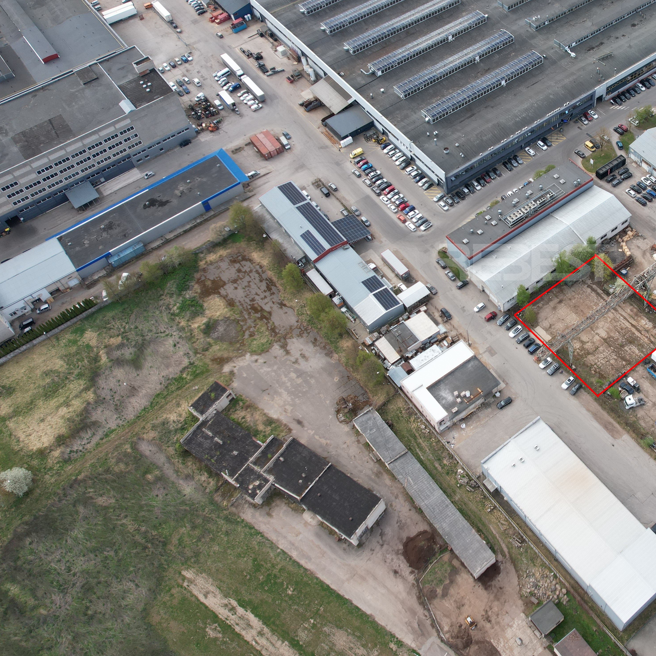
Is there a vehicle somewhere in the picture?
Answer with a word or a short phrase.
Yes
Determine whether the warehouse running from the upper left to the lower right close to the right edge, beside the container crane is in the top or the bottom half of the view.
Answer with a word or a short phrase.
bottom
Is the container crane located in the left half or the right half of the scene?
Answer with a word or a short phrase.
right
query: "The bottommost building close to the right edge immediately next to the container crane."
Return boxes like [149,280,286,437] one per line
[480,415,656,633]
